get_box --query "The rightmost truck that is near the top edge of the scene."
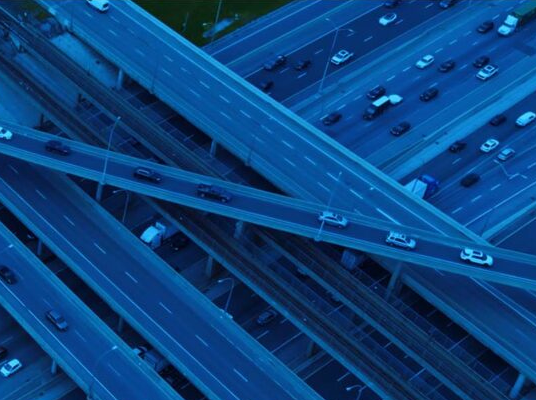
[495,0,536,38]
